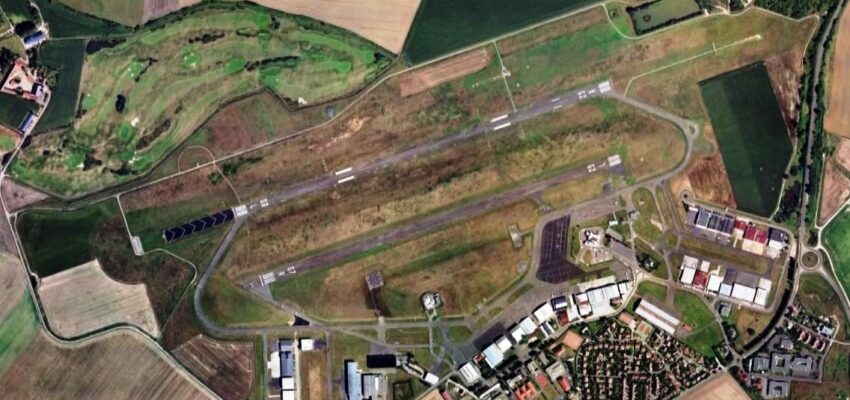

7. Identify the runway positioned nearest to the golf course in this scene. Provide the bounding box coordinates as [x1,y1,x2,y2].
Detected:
[164,79,618,241]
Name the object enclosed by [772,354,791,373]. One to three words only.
building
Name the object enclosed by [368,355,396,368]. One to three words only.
hangar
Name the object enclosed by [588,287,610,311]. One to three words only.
hangar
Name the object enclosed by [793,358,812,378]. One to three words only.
building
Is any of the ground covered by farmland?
Yes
